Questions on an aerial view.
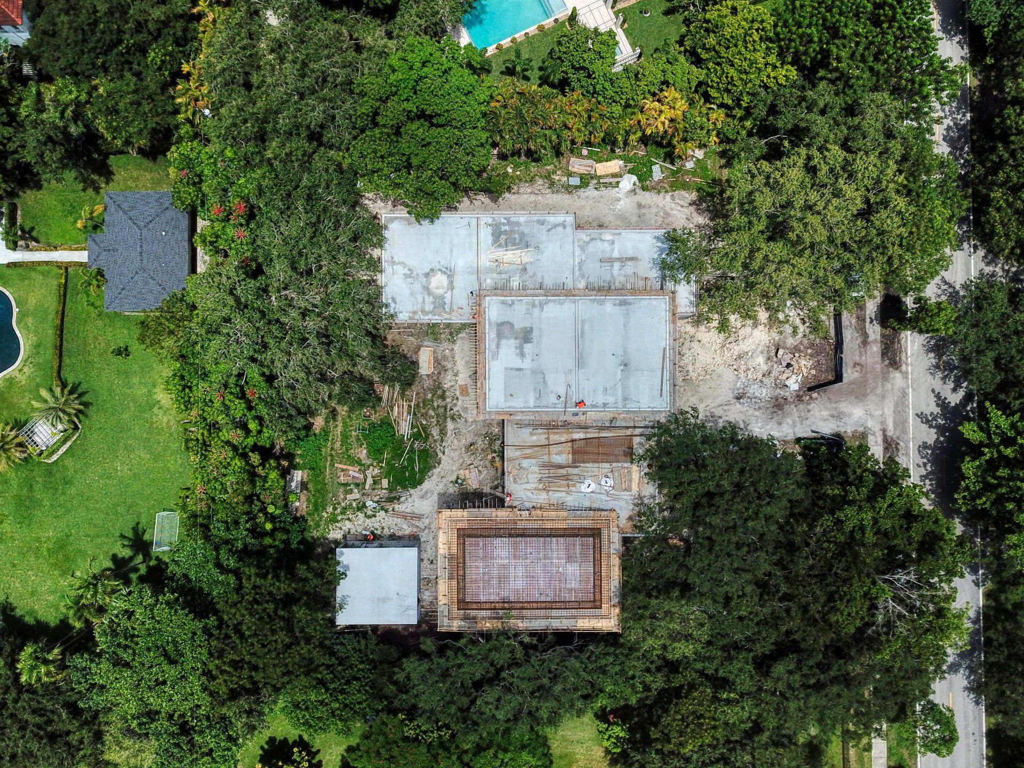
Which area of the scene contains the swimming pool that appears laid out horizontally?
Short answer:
top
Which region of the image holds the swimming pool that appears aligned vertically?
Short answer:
left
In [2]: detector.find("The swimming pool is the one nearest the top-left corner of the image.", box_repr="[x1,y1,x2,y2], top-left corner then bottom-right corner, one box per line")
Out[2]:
[0,285,25,379]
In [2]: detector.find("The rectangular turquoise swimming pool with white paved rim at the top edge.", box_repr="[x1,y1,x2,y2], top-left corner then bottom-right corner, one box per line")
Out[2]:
[454,0,572,50]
